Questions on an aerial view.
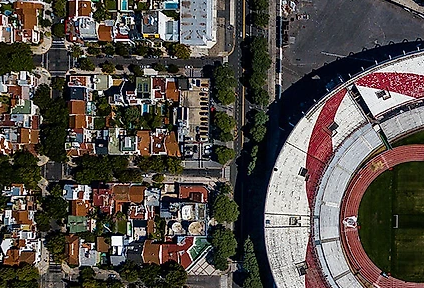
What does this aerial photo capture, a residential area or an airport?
residential area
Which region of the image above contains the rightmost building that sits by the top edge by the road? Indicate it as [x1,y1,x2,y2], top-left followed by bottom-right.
[180,0,217,48]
